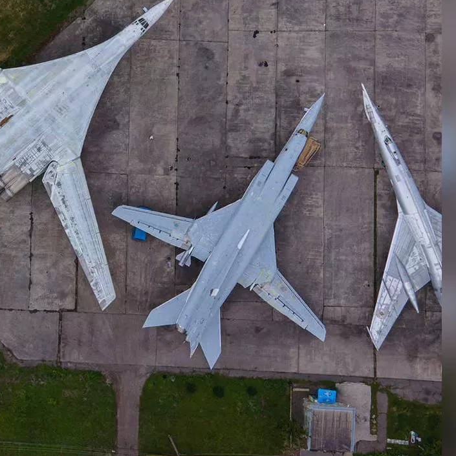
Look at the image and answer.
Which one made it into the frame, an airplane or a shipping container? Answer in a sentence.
The one in the frame is an airplane.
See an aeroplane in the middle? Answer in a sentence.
Yes, there is an aeroplane in the middle.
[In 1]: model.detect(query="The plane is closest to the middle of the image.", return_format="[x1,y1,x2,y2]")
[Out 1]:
[112,90,329,369]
